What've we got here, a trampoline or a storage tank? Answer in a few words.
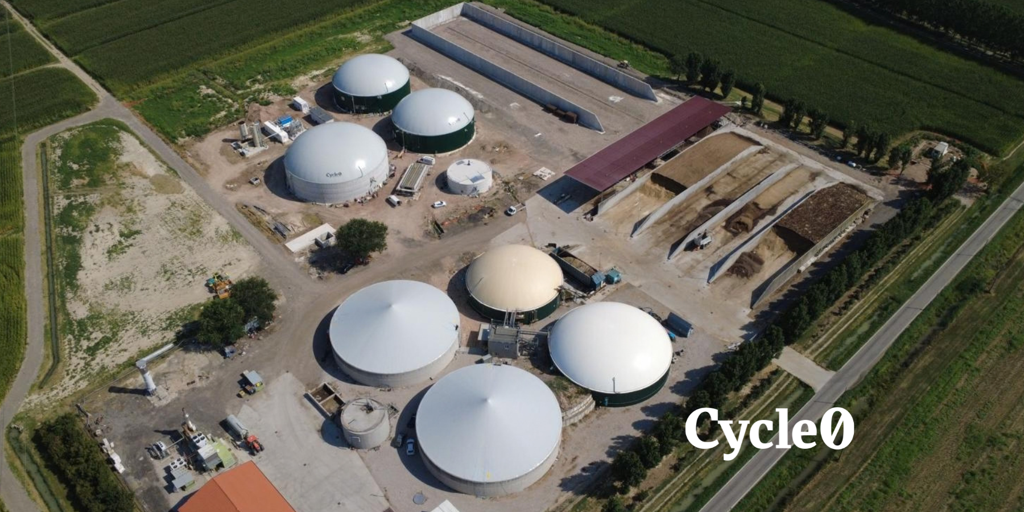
storage tank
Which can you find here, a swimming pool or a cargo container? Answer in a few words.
cargo container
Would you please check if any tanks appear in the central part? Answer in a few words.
Yes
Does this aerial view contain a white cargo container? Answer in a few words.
Yes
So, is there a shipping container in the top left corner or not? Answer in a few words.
Yes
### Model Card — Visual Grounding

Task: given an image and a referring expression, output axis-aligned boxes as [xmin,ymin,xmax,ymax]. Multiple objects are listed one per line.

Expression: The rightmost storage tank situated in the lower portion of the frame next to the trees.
[548,302,673,407]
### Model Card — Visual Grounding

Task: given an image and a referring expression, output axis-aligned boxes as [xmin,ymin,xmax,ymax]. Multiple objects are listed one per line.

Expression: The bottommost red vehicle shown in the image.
[245,431,265,452]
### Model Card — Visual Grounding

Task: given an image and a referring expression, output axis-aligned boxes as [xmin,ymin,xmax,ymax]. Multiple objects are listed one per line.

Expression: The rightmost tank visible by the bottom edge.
[415,363,563,498]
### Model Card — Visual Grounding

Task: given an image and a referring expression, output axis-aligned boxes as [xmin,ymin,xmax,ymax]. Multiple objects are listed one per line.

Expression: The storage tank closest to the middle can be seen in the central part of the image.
[466,245,564,324]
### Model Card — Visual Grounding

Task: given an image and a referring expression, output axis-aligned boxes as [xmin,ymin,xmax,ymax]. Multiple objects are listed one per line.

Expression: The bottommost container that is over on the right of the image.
[667,314,694,339]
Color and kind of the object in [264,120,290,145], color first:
white shipping container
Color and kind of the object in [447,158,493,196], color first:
white storage tank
